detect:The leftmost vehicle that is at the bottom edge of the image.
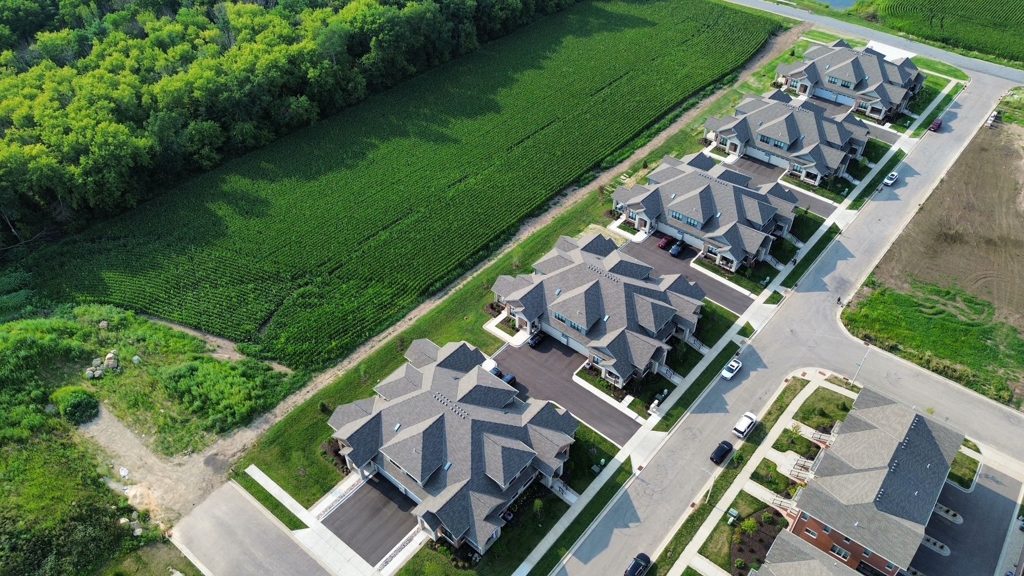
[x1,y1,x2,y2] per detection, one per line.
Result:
[623,545,652,576]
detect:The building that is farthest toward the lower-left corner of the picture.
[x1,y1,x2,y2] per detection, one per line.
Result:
[323,343,576,559]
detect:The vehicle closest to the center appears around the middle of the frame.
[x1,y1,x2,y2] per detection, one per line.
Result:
[526,330,550,351]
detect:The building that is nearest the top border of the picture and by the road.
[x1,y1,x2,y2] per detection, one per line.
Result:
[775,38,926,121]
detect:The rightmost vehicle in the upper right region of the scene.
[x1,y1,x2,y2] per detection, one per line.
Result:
[933,115,947,129]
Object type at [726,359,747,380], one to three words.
car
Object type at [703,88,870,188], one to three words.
house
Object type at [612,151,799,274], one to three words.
house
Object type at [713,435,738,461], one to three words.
car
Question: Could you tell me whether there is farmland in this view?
Yes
